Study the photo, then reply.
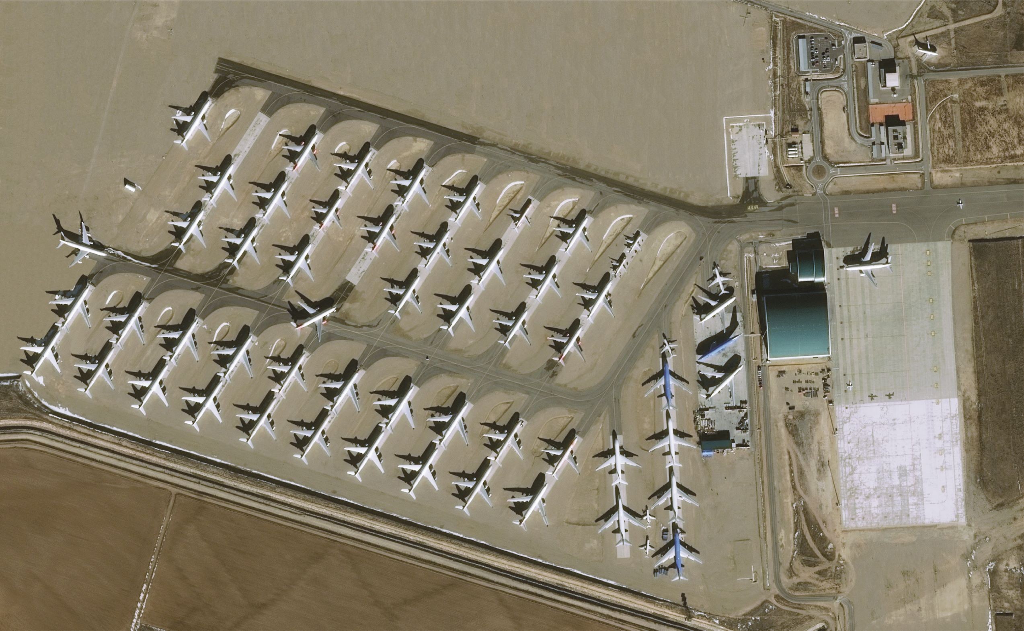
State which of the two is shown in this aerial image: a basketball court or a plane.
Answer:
plane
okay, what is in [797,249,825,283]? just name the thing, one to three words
hangar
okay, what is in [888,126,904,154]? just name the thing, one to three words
building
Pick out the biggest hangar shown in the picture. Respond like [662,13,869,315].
[764,293,831,360]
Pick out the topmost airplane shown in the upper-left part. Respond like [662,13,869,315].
[171,99,211,150]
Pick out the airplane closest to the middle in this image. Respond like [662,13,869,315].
[493,311,531,350]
